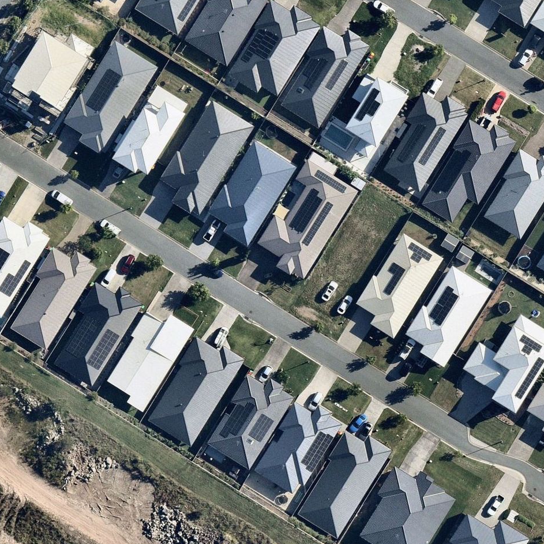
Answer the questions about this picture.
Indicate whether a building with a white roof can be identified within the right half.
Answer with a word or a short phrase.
Yes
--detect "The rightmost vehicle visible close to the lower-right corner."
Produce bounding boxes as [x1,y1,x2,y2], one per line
[488,494,505,518]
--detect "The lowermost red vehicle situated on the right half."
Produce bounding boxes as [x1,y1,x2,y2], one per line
[491,91,508,112]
